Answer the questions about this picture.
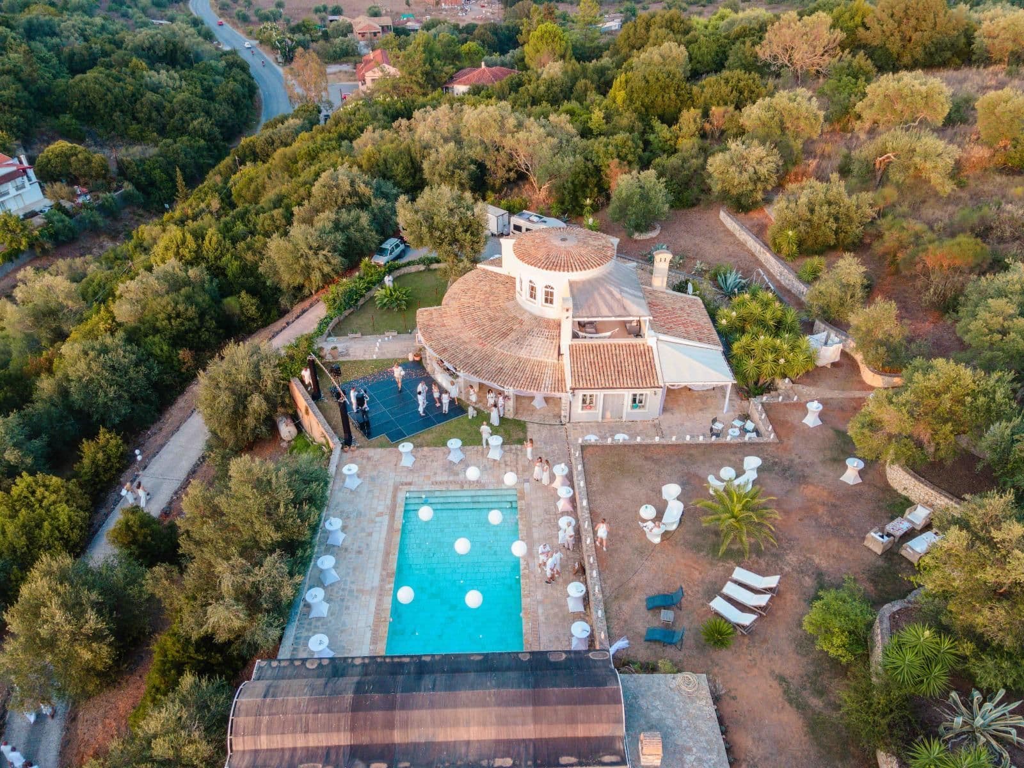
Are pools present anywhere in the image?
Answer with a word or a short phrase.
Yes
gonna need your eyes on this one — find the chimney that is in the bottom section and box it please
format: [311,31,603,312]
[641,730,670,767]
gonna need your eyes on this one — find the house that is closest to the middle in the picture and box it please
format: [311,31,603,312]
[412,228,725,426]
